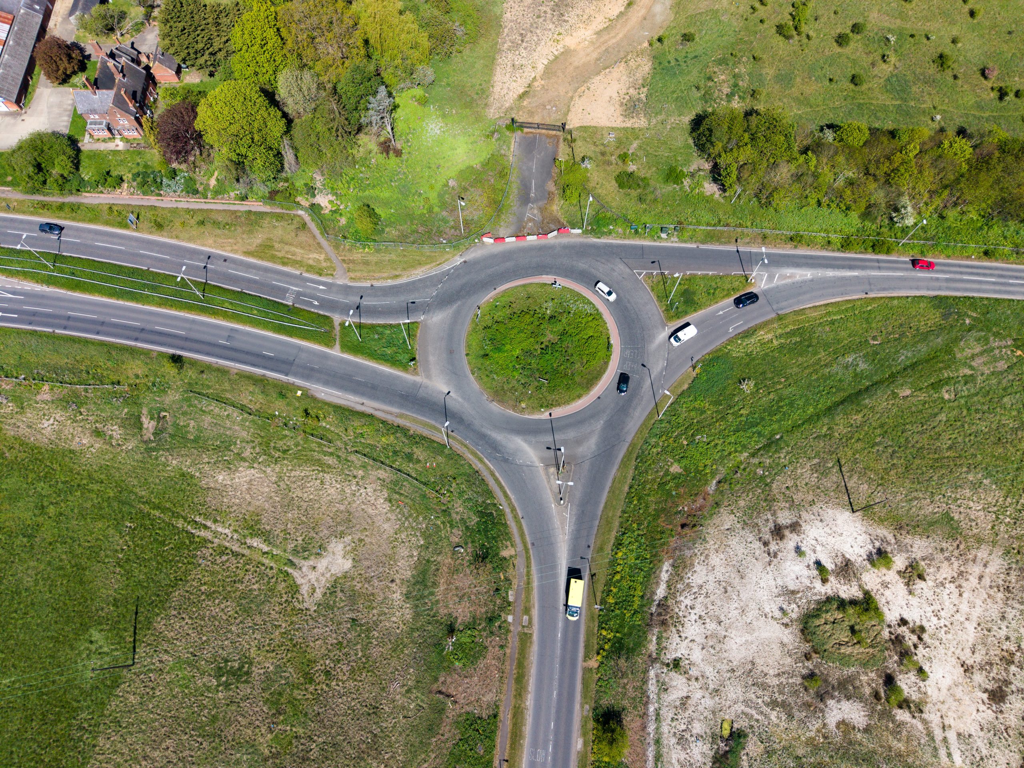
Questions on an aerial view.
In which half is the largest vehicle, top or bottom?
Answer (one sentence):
You can find the largest vehicle in the bottom half.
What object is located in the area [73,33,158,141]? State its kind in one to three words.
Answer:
house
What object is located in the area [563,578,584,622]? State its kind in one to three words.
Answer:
vehicle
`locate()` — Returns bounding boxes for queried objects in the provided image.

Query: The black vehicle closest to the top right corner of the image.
[733,292,760,311]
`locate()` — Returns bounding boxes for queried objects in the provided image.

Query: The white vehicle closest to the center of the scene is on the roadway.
[594,281,617,303]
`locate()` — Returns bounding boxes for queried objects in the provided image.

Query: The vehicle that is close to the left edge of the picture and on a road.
[37,223,64,236]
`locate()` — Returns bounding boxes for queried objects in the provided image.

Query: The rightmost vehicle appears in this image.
[912,259,936,273]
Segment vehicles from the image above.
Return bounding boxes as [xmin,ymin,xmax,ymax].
[912,259,936,273]
[594,281,617,303]
[563,578,584,622]
[669,324,699,347]
[733,292,760,311]
[37,223,64,236]
[617,372,630,397]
